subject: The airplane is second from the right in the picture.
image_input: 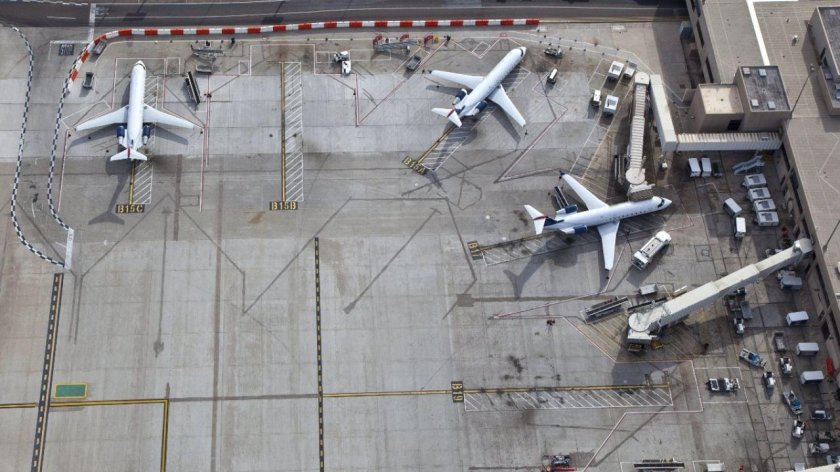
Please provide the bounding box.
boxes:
[427,46,527,129]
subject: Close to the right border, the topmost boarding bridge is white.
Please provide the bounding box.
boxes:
[627,231,819,355]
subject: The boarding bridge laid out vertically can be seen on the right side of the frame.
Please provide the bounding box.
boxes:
[611,69,651,202]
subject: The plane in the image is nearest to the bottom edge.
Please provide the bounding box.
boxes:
[522,168,672,271]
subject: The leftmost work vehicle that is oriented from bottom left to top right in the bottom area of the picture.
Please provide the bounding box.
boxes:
[583,293,632,328]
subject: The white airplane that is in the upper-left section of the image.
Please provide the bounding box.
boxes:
[73,62,195,167]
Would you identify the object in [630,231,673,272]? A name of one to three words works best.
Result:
truck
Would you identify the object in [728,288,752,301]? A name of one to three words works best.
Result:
vehicle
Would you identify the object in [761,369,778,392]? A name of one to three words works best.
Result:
work vehicle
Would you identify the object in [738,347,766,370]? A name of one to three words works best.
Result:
work vehicle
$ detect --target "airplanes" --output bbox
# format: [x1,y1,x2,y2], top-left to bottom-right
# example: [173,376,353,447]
[522,168,672,271]
[427,46,527,129]
[73,62,195,167]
